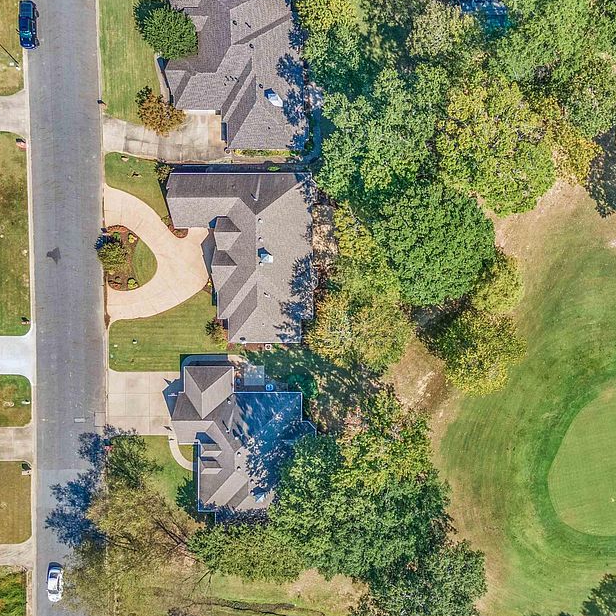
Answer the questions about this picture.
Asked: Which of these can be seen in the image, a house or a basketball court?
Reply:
house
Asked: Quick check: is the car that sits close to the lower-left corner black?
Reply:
No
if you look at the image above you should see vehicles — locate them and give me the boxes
[14,0,37,48]
[42,565,63,604]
